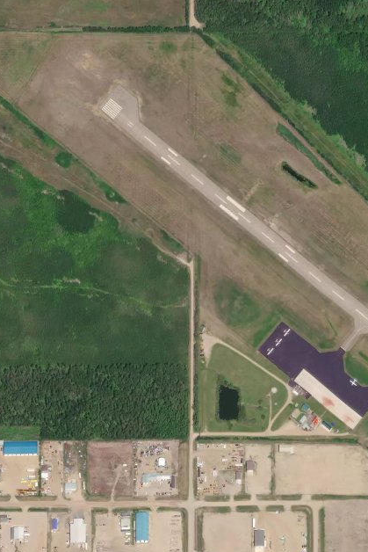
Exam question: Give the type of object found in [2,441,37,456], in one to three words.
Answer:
building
